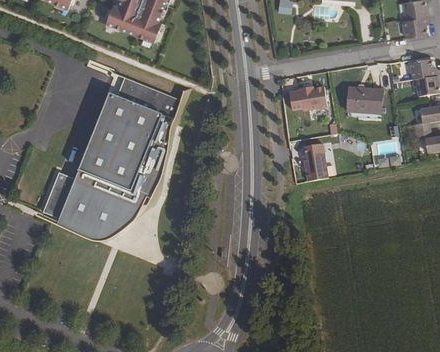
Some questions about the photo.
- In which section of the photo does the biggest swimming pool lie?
right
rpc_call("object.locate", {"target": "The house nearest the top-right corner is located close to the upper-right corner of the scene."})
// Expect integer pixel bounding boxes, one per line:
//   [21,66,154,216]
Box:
[400,0,432,40]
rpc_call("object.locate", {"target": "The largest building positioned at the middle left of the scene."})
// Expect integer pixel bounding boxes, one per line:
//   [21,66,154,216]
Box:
[44,74,178,240]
